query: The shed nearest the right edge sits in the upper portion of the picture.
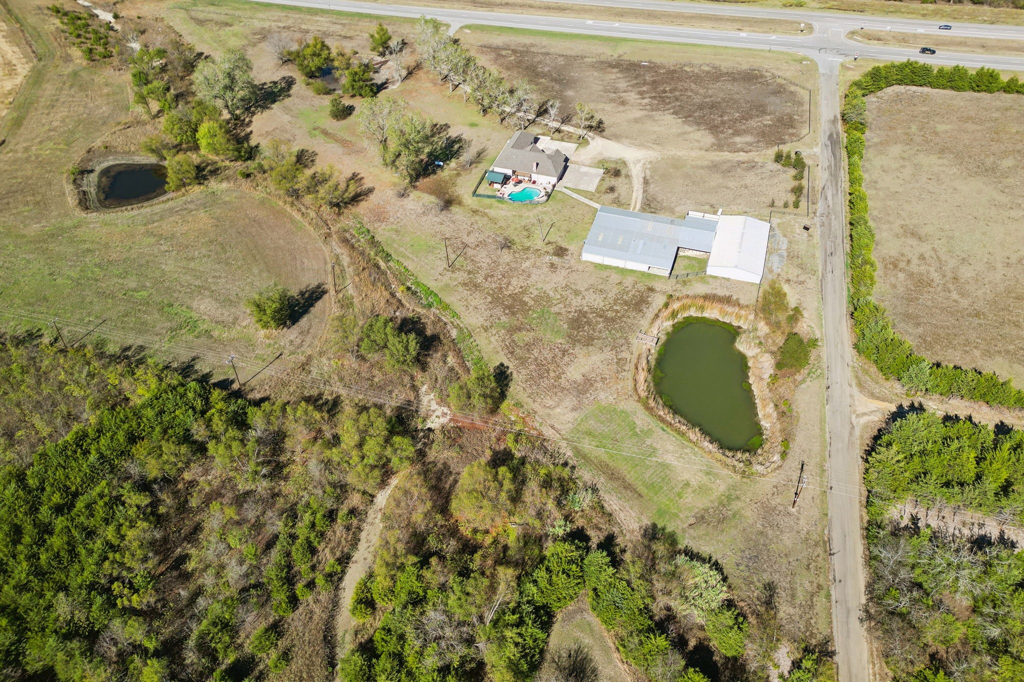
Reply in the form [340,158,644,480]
[706,216,774,285]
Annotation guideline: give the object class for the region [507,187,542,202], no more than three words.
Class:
swimming pool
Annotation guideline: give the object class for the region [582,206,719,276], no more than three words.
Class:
barn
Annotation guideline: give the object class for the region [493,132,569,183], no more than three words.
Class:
house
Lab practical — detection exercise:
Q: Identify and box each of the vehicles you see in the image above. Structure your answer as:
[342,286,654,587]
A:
[919,45,936,53]
[938,24,952,29]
